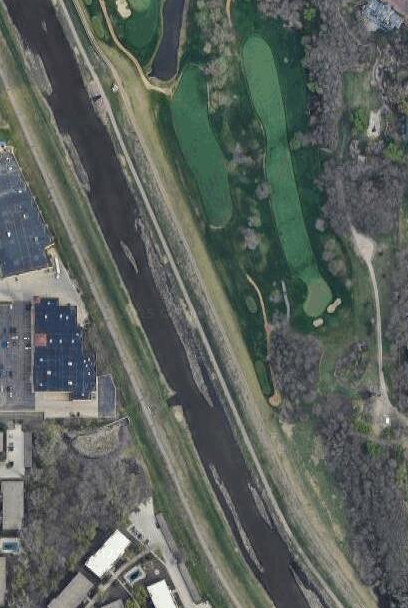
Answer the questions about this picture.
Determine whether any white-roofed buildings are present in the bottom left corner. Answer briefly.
Yes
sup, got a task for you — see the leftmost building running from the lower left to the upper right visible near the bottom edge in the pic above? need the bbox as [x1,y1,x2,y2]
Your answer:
[48,573,93,608]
